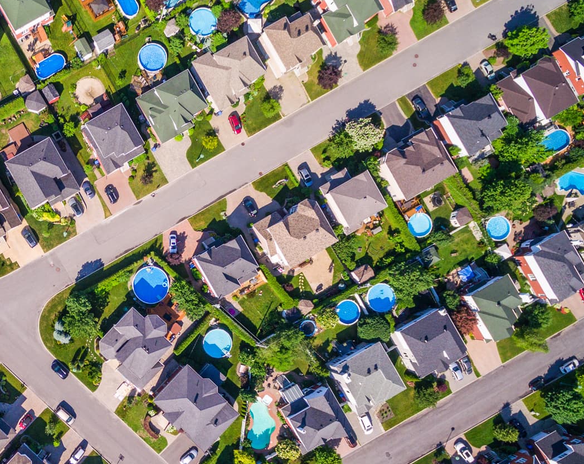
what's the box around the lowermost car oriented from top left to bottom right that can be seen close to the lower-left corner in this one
[60,405,84,426]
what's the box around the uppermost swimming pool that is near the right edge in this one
[541,126,571,155]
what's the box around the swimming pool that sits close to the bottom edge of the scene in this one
[246,399,277,451]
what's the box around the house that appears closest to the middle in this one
[250,199,337,266]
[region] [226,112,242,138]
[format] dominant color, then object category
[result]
red car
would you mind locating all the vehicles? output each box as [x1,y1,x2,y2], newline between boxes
[103,183,119,206]
[21,225,38,250]
[356,413,374,437]
[80,178,96,203]
[506,416,530,440]
[67,195,85,219]
[226,112,242,138]
[575,287,584,305]
[450,439,475,464]
[16,411,38,434]
[167,230,180,254]
[179,444,197,464]
[411,95,430,120]
[445,359,465,384]
[555,355,580,376]
[60,405,84,426]
[455,353,475,378]
[70,442,91,462]
[296,165,314,188]
[241,195,260,219]
[440,0,458,16]
[52,356,71,379]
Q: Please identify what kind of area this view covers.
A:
residential area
